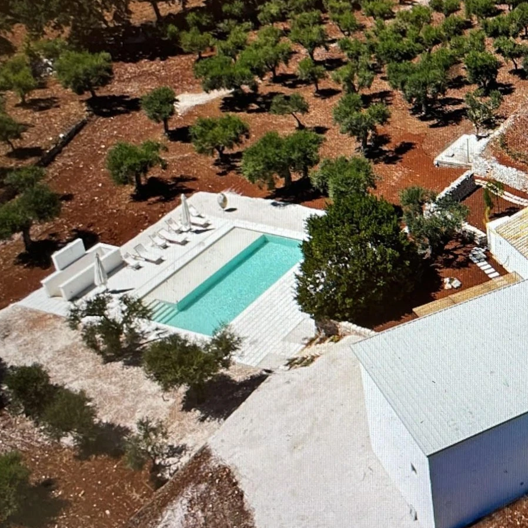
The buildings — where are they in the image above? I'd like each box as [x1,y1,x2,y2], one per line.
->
[486,199,528,279]
[340,282,528,528]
